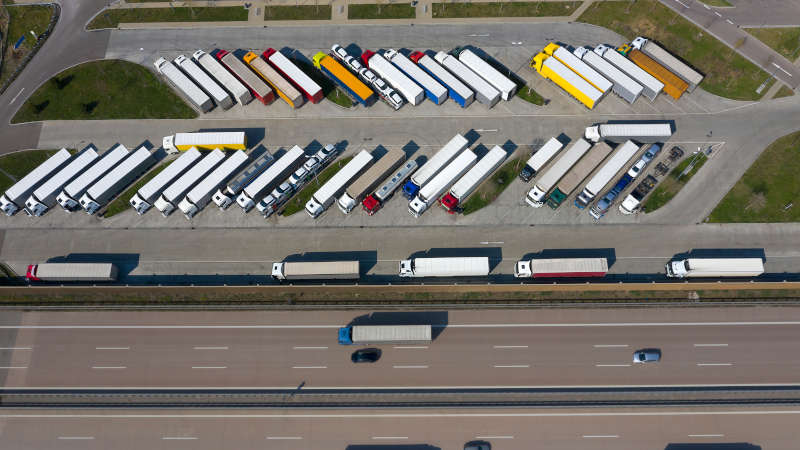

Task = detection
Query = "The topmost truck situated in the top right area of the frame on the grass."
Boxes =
[629,39,703,94]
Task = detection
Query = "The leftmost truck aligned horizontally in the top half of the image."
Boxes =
[164,132,249,155]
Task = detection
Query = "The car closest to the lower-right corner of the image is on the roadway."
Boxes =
[633,349,661,362]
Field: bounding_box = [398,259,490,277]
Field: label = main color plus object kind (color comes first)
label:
white vehicle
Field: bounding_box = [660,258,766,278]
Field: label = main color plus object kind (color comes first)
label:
white vehicle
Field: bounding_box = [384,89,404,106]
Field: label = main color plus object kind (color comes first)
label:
white car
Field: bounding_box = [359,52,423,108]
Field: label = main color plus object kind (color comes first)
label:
white truck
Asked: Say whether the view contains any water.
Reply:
No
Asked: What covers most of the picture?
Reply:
paved ground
